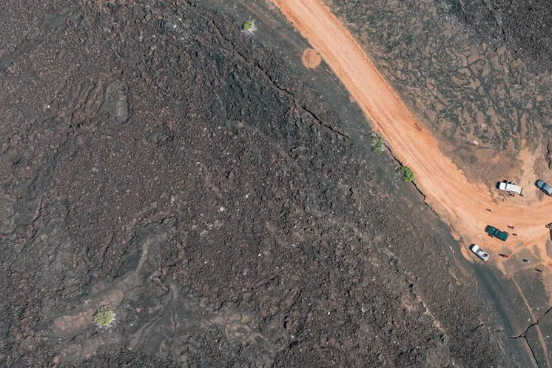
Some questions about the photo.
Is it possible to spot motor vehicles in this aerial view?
Yes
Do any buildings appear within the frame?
No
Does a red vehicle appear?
No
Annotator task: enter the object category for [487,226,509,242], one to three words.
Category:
vehicle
